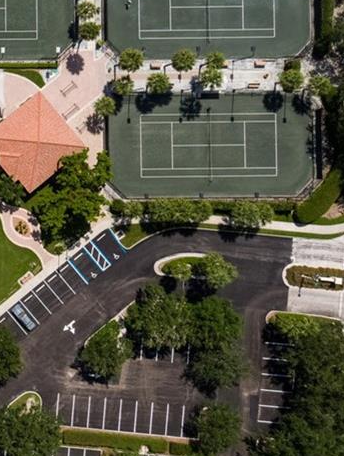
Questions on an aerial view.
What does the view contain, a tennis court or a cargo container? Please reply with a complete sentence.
Of the two, only a tennis court appears.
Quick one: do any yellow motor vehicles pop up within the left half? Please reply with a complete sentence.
No, I can find no yellow motor vehicle within the left half.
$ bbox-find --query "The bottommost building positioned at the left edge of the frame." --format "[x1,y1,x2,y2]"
[0,91,88,193]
